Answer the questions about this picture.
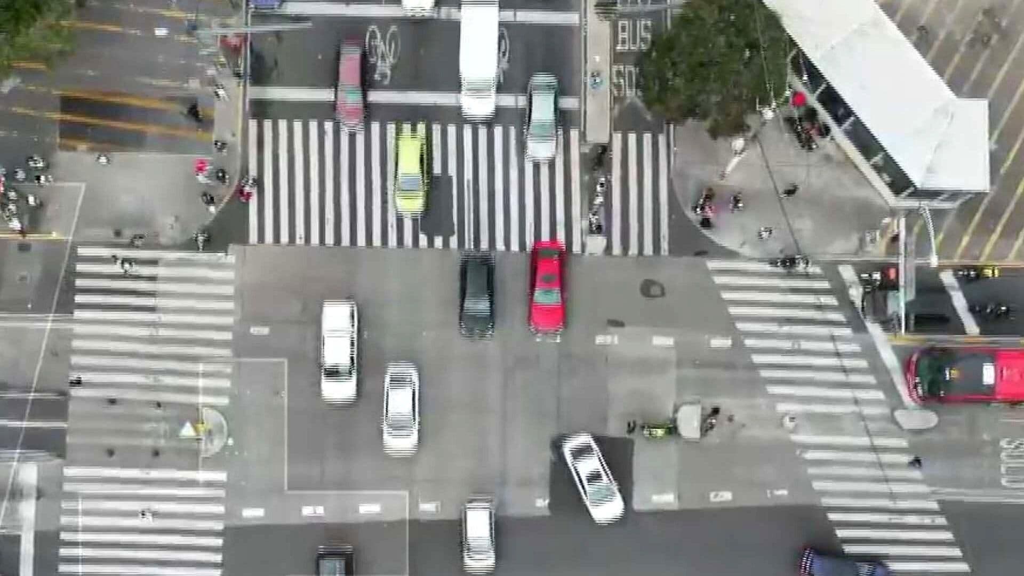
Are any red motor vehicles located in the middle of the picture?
Yes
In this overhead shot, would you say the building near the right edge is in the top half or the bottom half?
top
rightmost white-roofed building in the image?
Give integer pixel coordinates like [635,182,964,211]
[747,0,990,212]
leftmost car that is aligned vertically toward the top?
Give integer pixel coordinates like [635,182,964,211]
[332,40,369,132]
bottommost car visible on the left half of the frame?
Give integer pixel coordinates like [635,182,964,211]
[318,544,354,576]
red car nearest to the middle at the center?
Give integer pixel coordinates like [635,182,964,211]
[527,240,569,337]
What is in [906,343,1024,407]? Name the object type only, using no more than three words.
bus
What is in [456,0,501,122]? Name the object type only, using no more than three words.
van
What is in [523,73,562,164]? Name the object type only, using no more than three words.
car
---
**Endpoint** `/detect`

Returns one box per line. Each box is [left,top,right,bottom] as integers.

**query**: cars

[379,362,422,457]
[404,0,435,19]
[390,122,430,218]
[318,544,354,576]
[527,240,569,337]
[457,251,497,339]
[562,431,623,525]
[523,73,562,164]
[458,495,499,574]
[798,551,894,576]
[317,299,360,404]
[332,40,369,132]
